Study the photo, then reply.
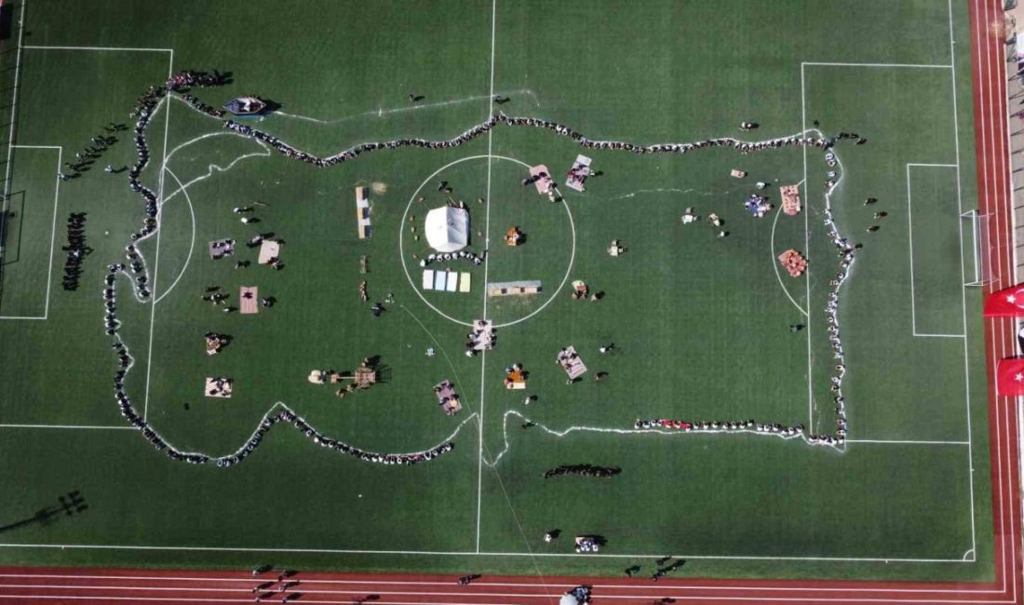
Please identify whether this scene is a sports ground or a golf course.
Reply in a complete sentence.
The picture captures a sports ground.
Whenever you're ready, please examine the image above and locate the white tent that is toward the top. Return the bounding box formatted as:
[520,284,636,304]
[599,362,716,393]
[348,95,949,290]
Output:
[415,198,485,256]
